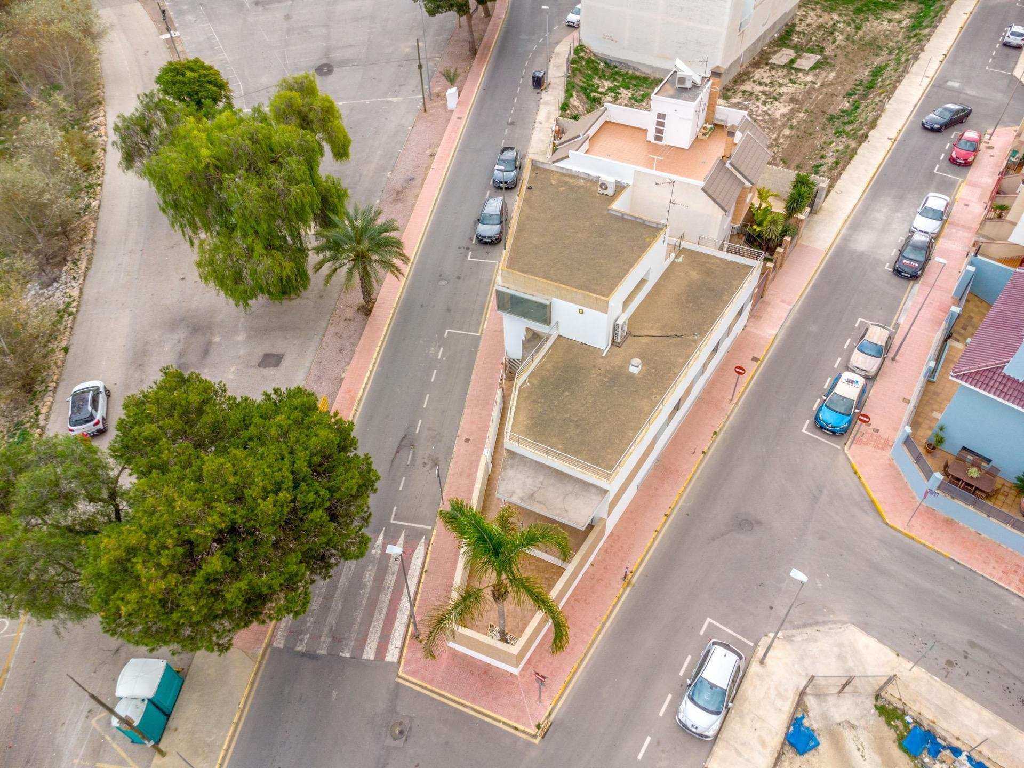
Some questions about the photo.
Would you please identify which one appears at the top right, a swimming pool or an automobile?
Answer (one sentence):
There is an automobile at the top right.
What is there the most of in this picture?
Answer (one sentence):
The largest share of the image is taken up by paved ground.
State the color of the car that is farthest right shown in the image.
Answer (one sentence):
In this view, the car that is farthest right is white.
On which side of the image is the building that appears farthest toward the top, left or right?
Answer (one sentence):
The building that appears farthest toward the top is on the right side of the image.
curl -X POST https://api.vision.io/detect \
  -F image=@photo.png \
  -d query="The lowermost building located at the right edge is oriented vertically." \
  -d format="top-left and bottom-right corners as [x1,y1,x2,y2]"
[927,271,1024,488]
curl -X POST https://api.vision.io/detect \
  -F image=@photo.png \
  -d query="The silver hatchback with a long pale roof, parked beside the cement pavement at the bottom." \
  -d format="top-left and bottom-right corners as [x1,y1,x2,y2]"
[678,639,745,745]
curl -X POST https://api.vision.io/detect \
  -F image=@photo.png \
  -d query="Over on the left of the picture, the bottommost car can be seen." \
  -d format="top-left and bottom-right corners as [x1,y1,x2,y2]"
[65,381,108,439]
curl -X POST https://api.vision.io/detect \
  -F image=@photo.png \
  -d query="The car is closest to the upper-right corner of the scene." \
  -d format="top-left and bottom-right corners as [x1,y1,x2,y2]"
[1002,26,1024,49]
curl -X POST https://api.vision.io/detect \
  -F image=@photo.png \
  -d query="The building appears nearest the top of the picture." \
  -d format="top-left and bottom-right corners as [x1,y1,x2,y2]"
[581,0,800,90]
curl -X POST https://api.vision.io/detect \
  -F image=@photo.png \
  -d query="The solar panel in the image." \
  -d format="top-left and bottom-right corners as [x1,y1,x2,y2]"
[673,58,700,89]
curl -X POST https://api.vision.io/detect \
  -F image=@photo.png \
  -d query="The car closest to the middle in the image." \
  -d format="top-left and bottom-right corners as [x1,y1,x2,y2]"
[474,198,508,244]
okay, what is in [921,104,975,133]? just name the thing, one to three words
car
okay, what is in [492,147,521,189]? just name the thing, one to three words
car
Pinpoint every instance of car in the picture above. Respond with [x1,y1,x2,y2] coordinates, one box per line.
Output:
[893,237,931,281]
[65,381,108,439]
[1002,26,1024,49]
[949,131,980,165]
[678,639,745,745]
[474,198,508,244]
[492,147,521,189]
[567,6,583,27]
[846,325,890,379]
[812,376,863,439]
[908,201,945,242]
[921,104,975,133]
